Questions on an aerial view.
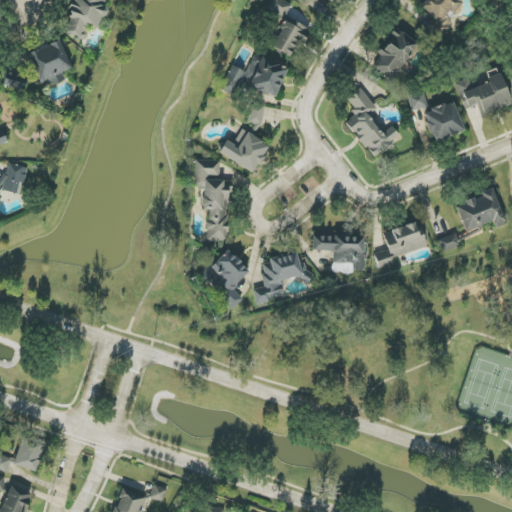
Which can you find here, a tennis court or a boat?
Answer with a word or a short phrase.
tennis court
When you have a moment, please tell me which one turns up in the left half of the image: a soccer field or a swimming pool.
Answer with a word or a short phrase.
swimming pool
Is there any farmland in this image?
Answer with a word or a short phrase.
No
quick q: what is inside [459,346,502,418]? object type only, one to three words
tennis court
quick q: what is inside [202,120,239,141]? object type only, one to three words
swimming pool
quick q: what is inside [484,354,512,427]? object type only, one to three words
tennis court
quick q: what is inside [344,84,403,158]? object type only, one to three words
house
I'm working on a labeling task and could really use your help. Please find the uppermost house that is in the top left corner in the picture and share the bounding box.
[68,0,108,38]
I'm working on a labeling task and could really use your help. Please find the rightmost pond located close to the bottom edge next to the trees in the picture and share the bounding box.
[159,398,512,512]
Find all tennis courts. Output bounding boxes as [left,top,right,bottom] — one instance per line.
[459,346,502,418]
[484,354,512,427]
